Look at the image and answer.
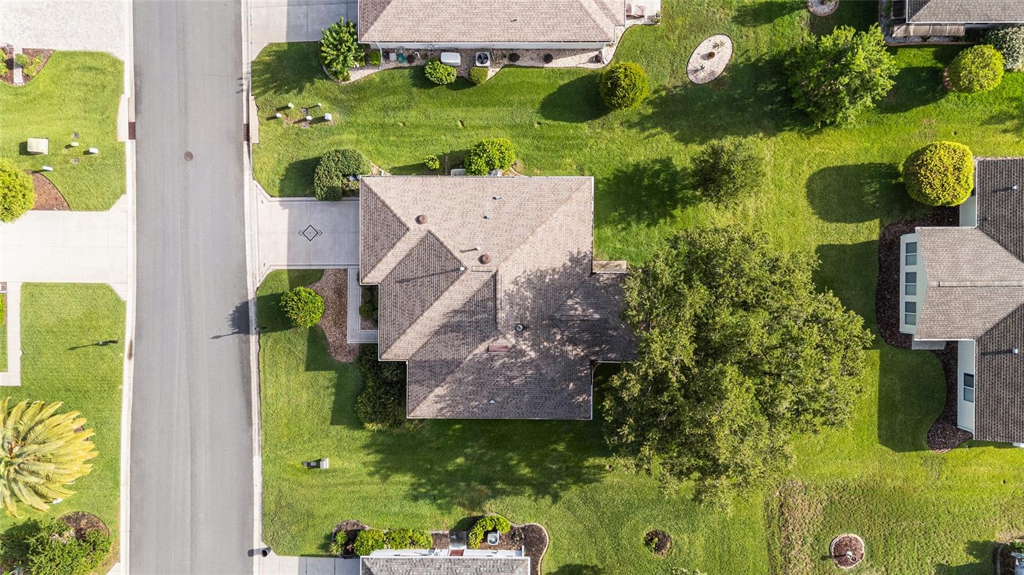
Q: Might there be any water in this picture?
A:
No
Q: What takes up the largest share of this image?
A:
grass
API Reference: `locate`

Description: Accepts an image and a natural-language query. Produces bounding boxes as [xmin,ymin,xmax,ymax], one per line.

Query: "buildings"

[900,157,1024,444]
[359,543,530,575]
[360,174,639,421]
[358,0,628,69]
[877,0,1024,48]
